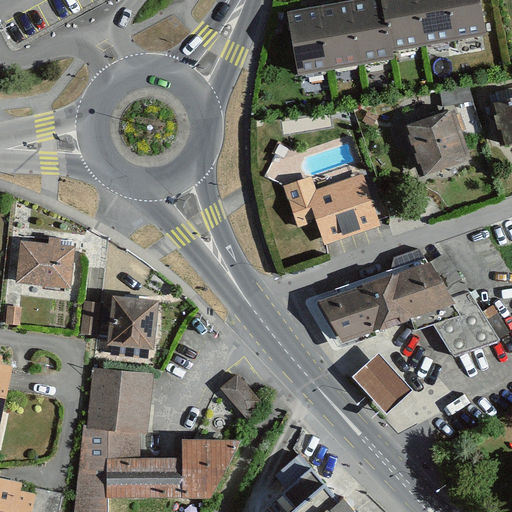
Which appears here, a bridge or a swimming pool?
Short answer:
swimming pool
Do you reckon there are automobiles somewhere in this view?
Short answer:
Yes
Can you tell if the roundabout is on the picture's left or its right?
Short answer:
left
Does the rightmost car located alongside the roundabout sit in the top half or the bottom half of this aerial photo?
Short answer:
top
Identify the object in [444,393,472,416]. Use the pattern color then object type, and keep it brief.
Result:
white camper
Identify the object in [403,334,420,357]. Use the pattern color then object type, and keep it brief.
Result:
red car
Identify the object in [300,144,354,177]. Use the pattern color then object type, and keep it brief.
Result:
blue swimming pool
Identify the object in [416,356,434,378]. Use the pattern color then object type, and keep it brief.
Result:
white car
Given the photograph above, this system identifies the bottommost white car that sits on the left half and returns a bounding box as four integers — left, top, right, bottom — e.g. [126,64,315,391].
[184,406,200,428]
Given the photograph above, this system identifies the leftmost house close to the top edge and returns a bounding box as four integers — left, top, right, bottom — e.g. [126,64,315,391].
[287,0,395,74]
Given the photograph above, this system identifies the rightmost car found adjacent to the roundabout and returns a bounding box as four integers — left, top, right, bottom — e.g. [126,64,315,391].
[181,33,205,56]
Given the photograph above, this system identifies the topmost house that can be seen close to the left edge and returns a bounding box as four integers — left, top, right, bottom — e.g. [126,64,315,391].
[16,240,75,290]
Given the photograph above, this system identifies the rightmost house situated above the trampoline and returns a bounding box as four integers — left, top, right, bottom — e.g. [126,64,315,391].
[382,0,488,48]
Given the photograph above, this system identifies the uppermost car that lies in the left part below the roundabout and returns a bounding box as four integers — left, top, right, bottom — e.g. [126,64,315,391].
[116,270,142,290]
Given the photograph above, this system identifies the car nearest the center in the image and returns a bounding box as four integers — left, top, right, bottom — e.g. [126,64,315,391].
[192,316,208,335]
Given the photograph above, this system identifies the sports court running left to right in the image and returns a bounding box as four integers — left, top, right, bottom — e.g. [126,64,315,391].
[282,115,334,136]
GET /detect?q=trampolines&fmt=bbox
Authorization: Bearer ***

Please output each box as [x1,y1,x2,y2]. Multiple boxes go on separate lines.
[433,58,452,77]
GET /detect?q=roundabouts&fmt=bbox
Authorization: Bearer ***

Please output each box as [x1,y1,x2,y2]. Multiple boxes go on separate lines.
[76,54,223,200]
